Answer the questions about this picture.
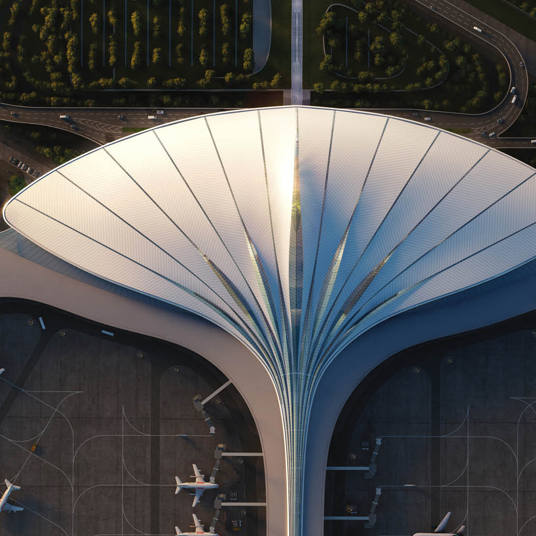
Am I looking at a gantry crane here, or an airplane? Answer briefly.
airplane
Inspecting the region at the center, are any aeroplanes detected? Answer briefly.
No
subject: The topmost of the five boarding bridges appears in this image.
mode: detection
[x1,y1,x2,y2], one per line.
[192,381,230,434]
